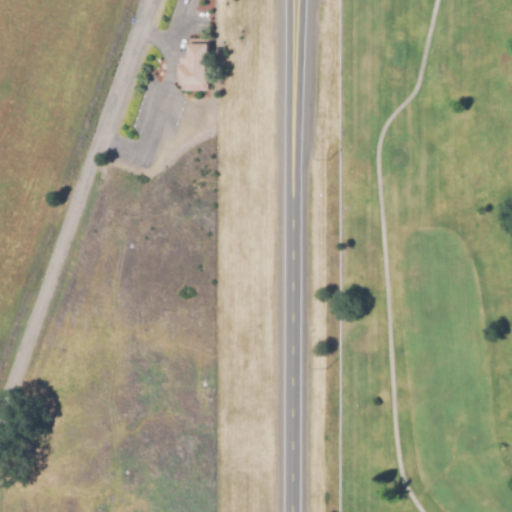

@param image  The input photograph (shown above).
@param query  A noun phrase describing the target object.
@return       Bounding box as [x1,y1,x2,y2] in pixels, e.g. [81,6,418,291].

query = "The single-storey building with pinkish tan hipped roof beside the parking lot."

[178,45,210,92]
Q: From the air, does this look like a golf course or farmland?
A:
golf course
